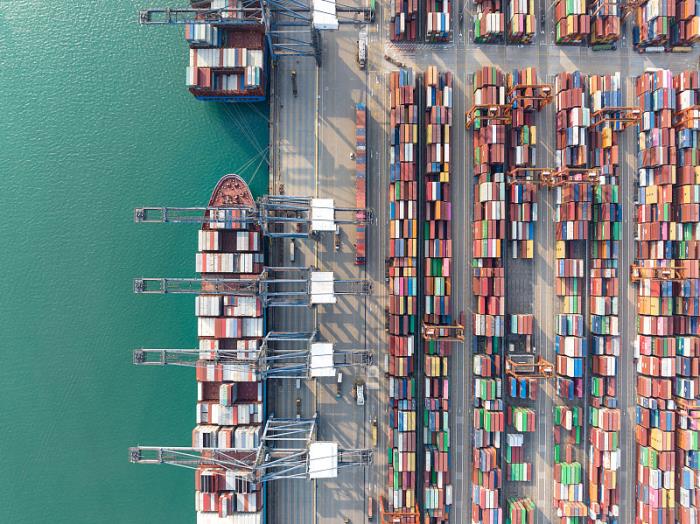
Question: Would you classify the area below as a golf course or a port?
port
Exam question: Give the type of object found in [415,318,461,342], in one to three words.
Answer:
container crane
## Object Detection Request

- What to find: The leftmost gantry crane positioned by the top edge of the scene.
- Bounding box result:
[135,0,375,69]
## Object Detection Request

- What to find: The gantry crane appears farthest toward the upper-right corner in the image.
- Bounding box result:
[588,0,643,30]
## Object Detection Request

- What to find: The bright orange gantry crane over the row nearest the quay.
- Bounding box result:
[379,491,422,524]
